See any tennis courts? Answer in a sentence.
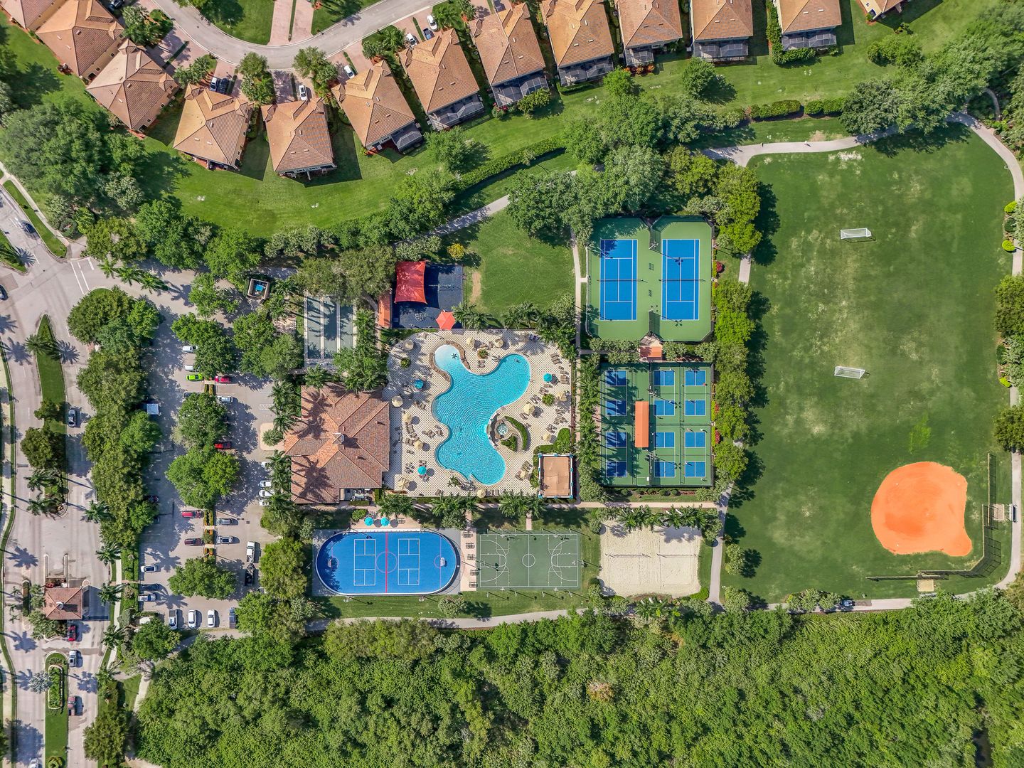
Yes, the frame does contain a tennis court.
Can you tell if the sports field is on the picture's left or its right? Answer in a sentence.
The sports field is on the right side of the image.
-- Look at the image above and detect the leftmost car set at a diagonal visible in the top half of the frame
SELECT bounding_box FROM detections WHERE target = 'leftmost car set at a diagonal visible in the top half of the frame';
[18,219,32,235]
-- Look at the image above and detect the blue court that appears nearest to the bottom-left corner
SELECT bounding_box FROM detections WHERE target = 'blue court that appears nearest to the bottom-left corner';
[312,529,460,596]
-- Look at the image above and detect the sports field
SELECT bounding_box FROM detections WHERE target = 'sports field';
[724,122,1015,602]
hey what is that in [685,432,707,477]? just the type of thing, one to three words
sports court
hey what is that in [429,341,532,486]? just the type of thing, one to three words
swimming pool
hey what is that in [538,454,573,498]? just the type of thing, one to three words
building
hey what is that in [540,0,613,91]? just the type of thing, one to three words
house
